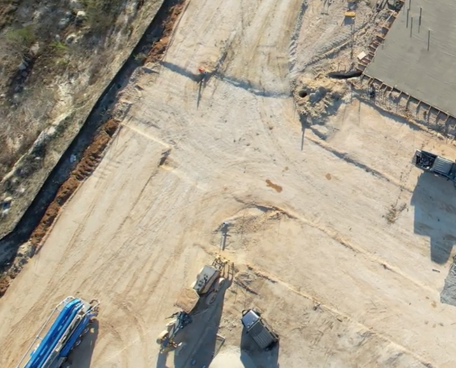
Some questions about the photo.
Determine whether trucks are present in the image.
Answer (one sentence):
Yes, this view includes a truck.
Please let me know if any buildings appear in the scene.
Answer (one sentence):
No, I can see no building in this picture.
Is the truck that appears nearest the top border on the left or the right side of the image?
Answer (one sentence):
The truck that appears nearest the top border is on the right side of the image.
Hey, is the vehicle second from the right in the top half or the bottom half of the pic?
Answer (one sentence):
The vehicle second from the right sits in the bottom half of the picture.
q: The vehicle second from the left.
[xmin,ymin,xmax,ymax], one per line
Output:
[171,251,236,345]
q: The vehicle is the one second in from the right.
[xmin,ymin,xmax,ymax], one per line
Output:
[240,308,279,357]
